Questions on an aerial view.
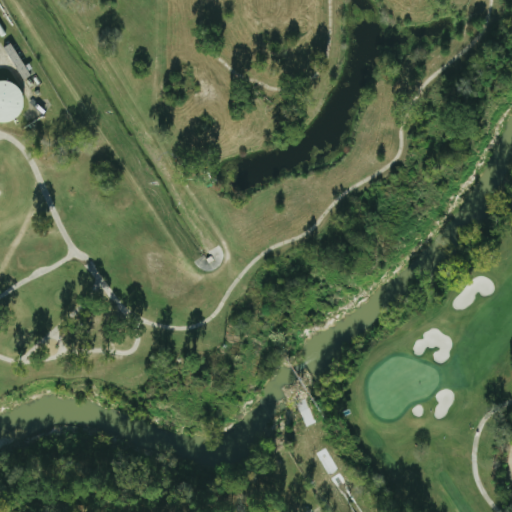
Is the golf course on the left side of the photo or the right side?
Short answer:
right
